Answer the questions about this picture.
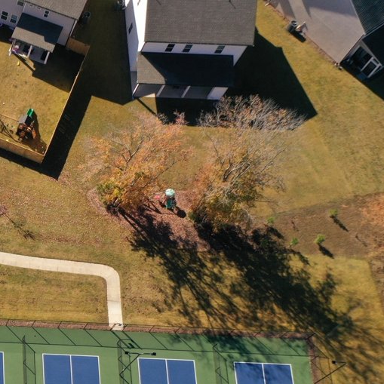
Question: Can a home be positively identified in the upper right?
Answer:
Yes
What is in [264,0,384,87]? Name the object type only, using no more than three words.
house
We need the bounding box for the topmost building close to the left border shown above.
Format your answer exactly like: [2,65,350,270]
[0,0,87,66]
